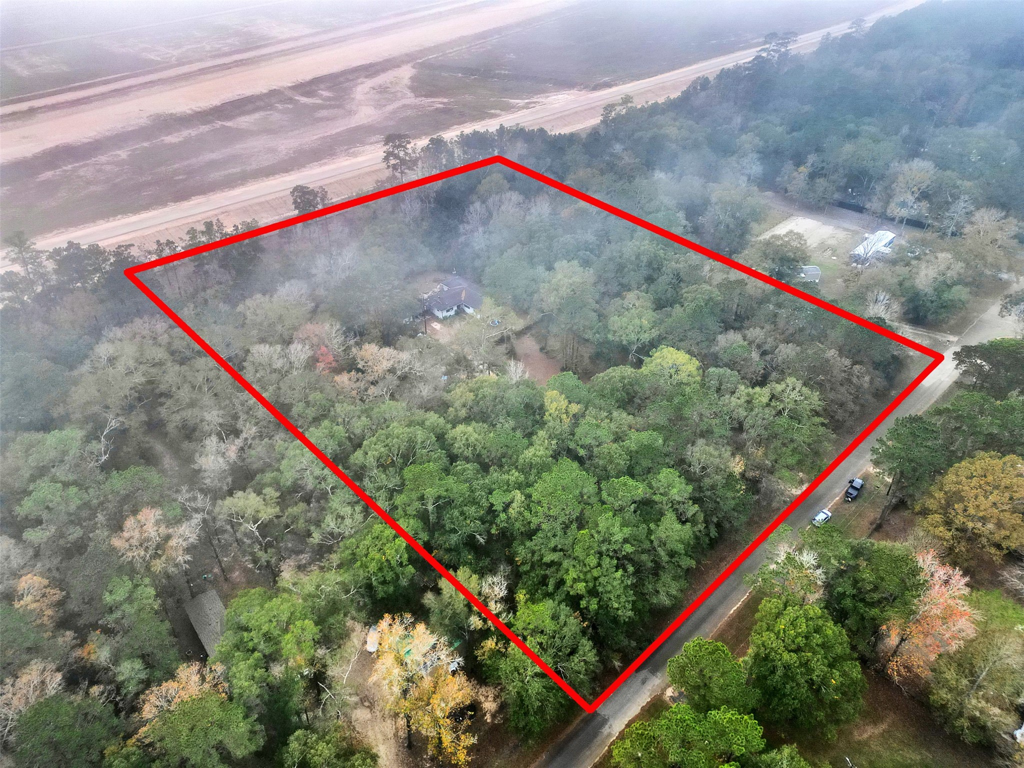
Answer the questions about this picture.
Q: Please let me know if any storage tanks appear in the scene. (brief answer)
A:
No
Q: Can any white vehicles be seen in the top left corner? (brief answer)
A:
No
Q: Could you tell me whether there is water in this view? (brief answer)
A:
No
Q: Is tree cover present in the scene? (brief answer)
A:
Yes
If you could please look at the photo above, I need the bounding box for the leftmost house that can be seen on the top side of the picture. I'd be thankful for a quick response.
[424,275,508,320]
